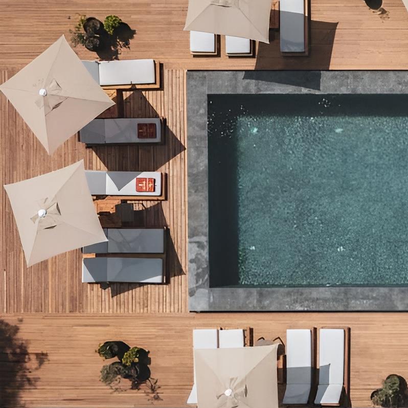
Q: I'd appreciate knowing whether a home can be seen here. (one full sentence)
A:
No, I find no home anywhere in the image.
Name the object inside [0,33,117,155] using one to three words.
umbrella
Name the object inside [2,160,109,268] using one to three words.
umbrella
